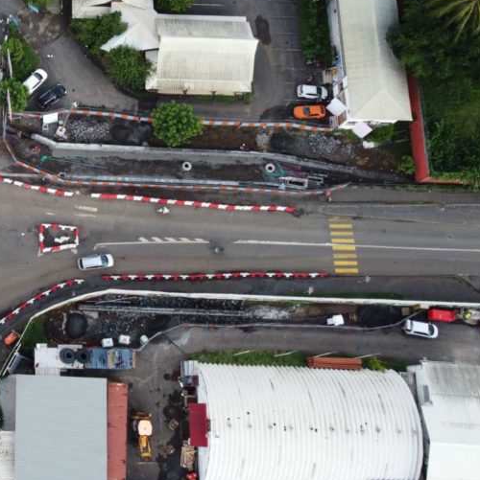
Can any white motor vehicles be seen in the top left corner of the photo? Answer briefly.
Yes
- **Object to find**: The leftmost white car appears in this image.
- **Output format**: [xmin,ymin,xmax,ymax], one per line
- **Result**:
[23,69,49,95]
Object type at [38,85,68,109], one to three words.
car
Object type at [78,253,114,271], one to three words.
car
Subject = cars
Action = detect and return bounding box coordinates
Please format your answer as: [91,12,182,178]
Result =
[38,85,68,109]
[292,105,325,120]
[296,84,328,100]
[78,253,114,271]
[402,321,438,339]
[23,69,49,95]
